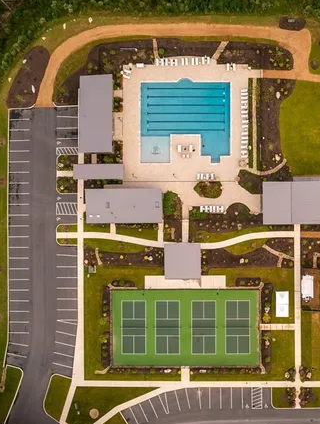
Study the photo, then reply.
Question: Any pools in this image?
Yes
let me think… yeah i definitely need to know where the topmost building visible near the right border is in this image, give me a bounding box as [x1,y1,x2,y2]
[262,181,320,225]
